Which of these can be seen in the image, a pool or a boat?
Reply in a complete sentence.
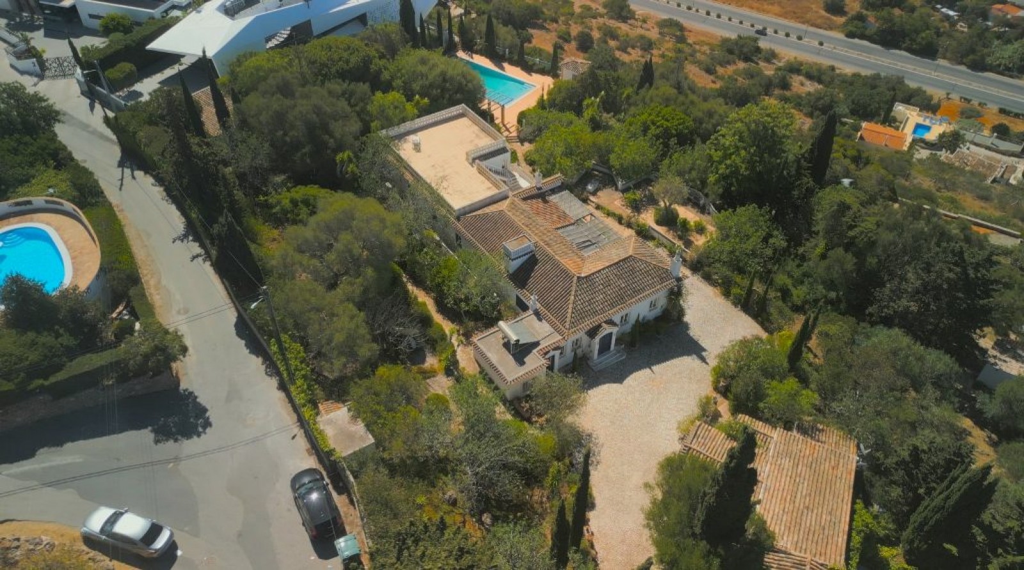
I can see a pool in this picture.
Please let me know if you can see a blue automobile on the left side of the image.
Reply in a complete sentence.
No, the scene shows no blue automobile on the left side of the image.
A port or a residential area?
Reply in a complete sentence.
It's a residential area.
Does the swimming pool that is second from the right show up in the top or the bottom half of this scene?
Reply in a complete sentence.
Seen from above, the swimming pool that is second from the right lies in the top half of the view.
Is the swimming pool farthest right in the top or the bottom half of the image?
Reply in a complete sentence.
It is in the top half that the swimming pool farthest right appears.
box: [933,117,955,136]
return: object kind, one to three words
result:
umbrella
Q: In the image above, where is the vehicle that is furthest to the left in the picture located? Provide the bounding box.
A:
[89,510,173,564]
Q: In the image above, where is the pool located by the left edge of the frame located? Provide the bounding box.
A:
[0,214,107,349]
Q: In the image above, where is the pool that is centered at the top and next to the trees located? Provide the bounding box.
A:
[441,49,554,158]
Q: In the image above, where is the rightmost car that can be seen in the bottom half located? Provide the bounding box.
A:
[293,471,343,546]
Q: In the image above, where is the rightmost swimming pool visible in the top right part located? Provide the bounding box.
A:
[901,116,949,149]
